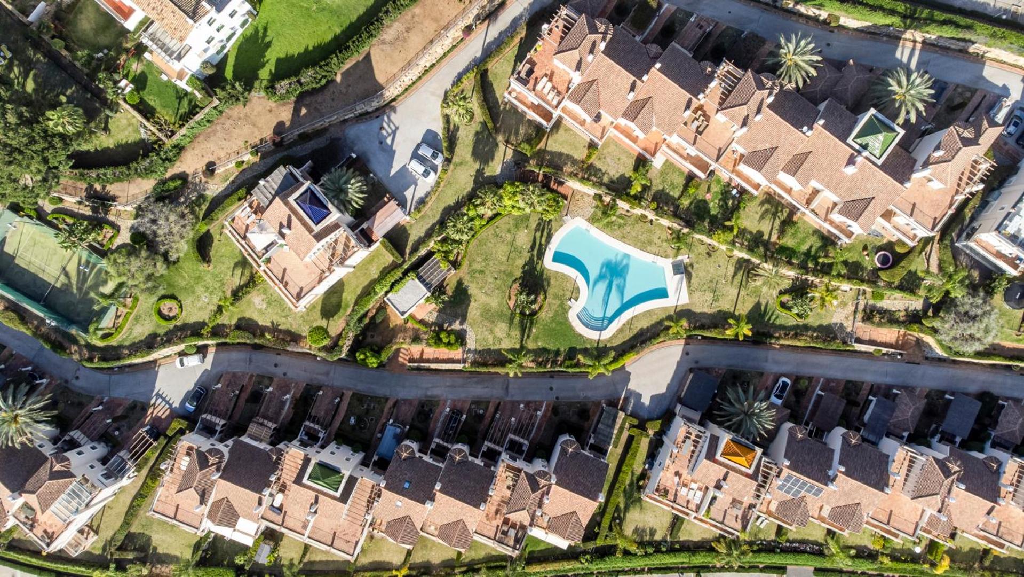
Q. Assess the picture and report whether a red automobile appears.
No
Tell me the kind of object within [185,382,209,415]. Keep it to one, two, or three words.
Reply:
car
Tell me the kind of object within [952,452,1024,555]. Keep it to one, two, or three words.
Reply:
house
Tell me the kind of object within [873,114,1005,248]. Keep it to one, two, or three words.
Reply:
house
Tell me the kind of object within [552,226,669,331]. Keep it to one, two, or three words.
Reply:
swimming pool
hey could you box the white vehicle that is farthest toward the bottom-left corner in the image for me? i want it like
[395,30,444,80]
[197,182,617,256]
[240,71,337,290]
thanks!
[175,353,206,370]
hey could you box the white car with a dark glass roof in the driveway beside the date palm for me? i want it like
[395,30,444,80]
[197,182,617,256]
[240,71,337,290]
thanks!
[768,375,790,407]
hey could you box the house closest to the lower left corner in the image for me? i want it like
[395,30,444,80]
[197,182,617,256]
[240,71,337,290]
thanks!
[0,426,166,559]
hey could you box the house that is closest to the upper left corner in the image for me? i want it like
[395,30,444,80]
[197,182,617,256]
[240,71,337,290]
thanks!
[95,0,262,99]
